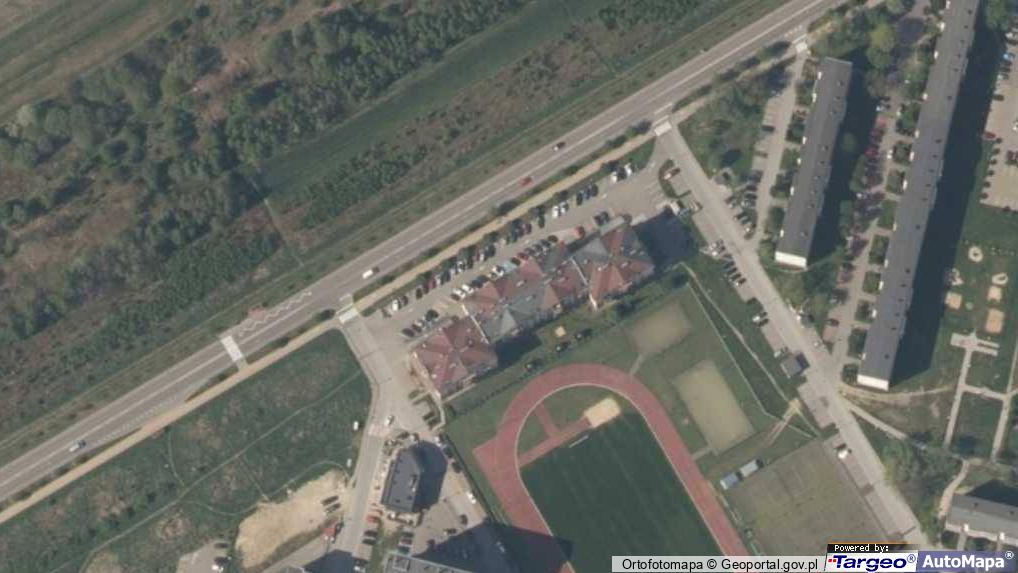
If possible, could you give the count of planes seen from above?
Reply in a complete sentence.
The count of planes is 0.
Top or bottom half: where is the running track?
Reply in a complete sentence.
Seen from above, the running track lies in the bottom half of the view.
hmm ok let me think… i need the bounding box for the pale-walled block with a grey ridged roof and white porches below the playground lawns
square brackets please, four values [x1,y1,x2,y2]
[944,494,1018,550]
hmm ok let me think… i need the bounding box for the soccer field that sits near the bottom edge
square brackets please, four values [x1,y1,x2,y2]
[523,398,727,573]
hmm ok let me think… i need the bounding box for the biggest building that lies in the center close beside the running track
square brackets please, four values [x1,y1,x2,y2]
[416,226,648,395]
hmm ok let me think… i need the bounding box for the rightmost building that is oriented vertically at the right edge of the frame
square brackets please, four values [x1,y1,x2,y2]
[856,0,982,390]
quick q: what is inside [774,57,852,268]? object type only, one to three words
building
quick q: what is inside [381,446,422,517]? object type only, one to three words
building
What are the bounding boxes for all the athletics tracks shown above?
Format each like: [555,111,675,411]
[474,364,752,573]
